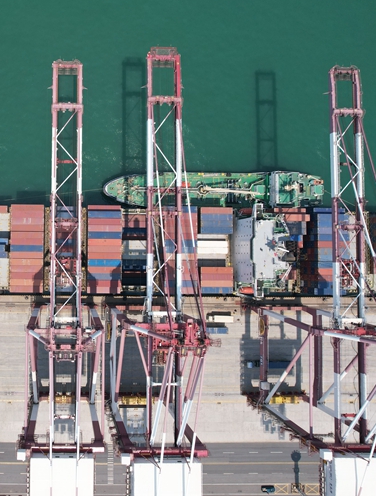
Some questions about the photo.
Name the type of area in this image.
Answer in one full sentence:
What you see here is a port.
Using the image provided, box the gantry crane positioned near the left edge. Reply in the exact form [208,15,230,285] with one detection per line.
[16,58,113,496]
